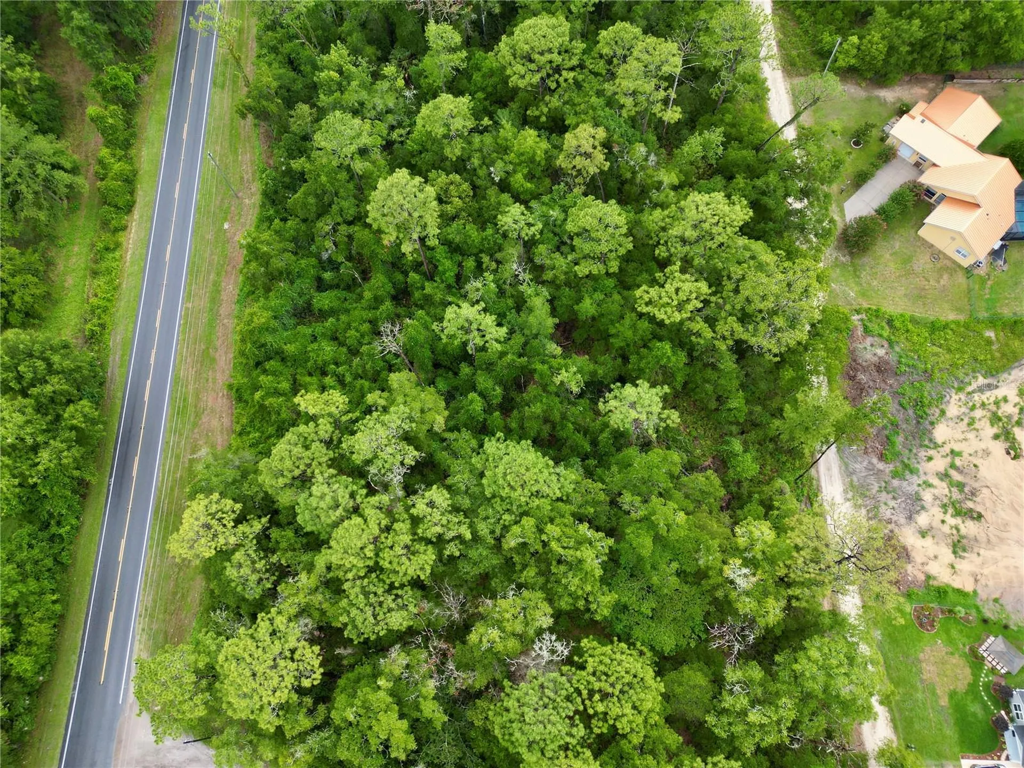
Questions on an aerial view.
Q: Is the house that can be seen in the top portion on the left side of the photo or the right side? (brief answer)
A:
right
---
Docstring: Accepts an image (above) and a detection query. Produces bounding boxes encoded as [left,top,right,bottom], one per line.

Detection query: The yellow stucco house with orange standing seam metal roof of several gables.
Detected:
[886,87,1024,267]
